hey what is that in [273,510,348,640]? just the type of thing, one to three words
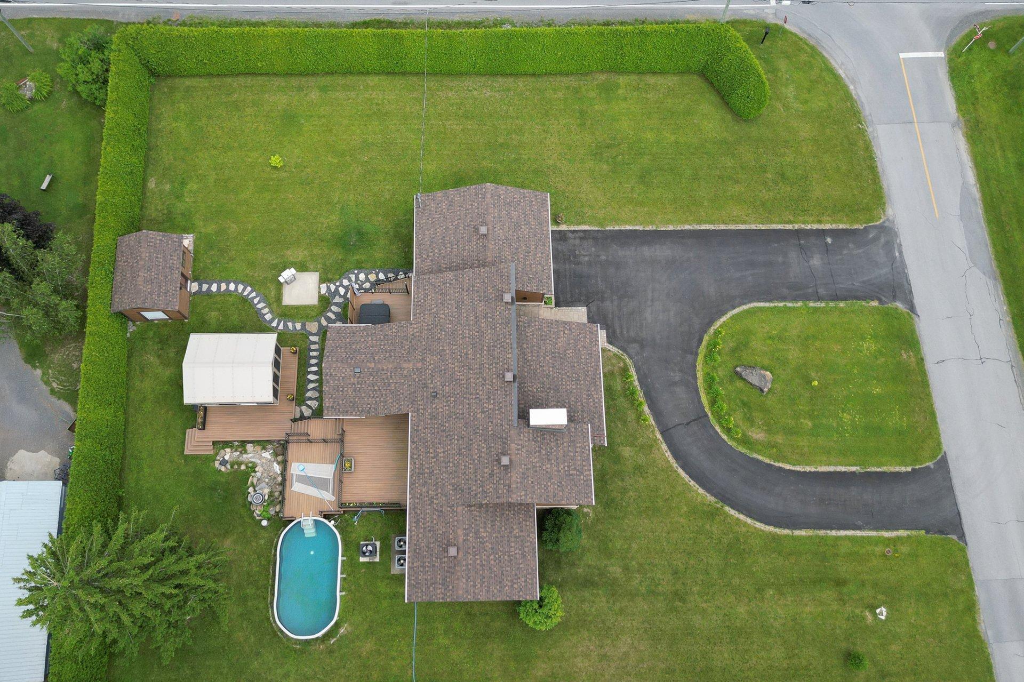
swimming pool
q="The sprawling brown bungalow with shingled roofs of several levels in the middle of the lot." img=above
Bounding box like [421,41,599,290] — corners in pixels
[323,182,608,604]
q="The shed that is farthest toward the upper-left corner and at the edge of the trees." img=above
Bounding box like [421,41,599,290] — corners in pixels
[110,230,195,325]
